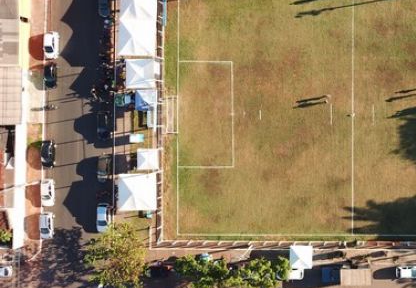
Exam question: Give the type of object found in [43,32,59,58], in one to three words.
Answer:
car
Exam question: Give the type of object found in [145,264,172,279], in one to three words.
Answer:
car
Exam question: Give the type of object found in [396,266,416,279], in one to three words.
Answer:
vehicle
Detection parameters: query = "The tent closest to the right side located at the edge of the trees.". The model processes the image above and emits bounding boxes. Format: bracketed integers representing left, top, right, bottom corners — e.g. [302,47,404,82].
[290,242,314,269]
